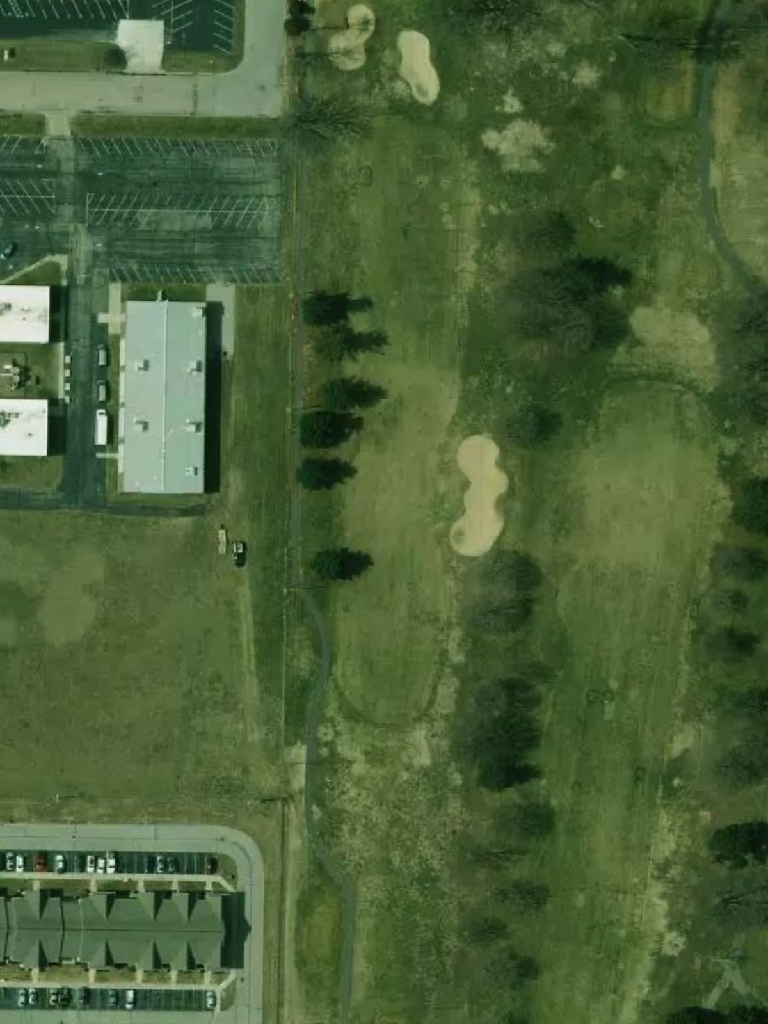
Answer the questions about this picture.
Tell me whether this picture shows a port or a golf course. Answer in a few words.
golf course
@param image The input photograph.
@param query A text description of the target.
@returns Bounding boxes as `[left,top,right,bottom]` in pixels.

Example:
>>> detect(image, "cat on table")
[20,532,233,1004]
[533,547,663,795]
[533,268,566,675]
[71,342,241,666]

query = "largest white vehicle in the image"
[95,409,107,445]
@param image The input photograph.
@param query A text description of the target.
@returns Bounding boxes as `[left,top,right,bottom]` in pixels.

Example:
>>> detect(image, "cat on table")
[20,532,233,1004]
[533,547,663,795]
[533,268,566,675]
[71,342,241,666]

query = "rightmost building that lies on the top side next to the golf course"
[119,289,206,494]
